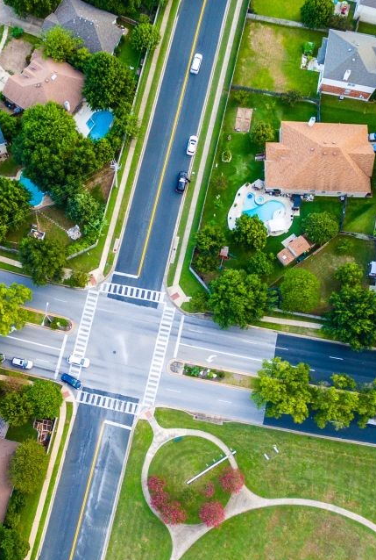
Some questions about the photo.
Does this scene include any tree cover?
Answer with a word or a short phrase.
Yes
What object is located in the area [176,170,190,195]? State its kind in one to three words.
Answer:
vehicle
